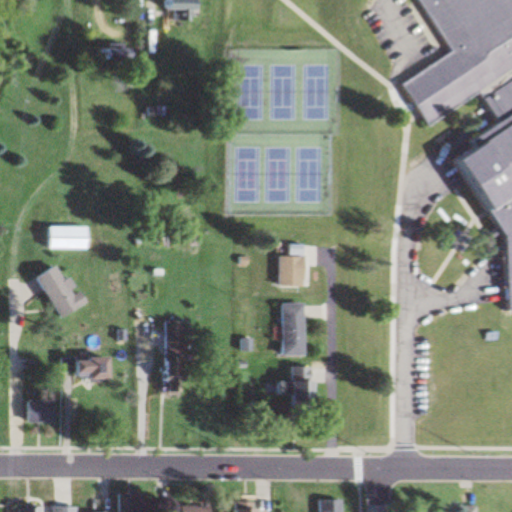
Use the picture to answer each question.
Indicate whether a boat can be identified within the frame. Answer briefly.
No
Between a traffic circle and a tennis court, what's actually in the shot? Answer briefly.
tennis court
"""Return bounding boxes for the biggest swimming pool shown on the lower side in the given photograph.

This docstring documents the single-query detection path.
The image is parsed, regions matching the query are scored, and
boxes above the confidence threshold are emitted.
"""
[86,334,100,350]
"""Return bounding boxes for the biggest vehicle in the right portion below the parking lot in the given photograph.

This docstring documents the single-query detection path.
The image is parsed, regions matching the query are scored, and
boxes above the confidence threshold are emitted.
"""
[435,142,452,166]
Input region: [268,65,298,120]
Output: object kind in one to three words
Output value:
tennis court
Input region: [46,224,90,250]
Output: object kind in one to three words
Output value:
shed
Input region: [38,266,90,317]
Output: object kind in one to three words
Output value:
house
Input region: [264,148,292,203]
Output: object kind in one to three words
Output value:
tennis court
